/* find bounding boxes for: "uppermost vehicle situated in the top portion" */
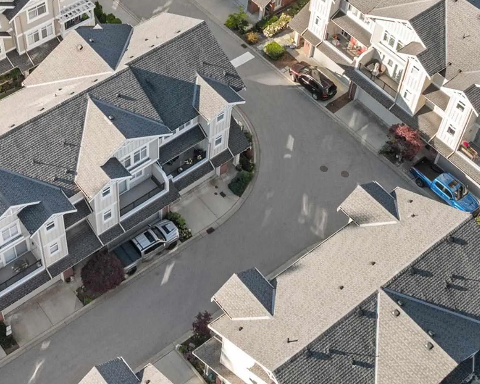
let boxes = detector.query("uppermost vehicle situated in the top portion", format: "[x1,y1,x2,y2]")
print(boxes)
[290,65,340,100]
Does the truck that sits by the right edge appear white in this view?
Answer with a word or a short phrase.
No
